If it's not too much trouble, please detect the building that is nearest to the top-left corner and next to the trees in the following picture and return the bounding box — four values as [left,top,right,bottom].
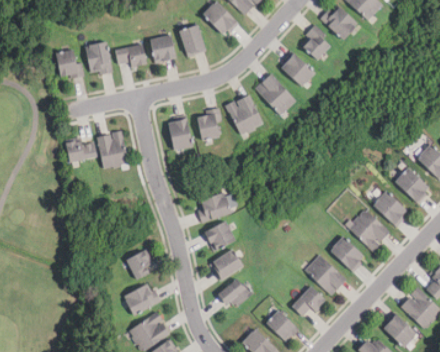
[57,50,84,78]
